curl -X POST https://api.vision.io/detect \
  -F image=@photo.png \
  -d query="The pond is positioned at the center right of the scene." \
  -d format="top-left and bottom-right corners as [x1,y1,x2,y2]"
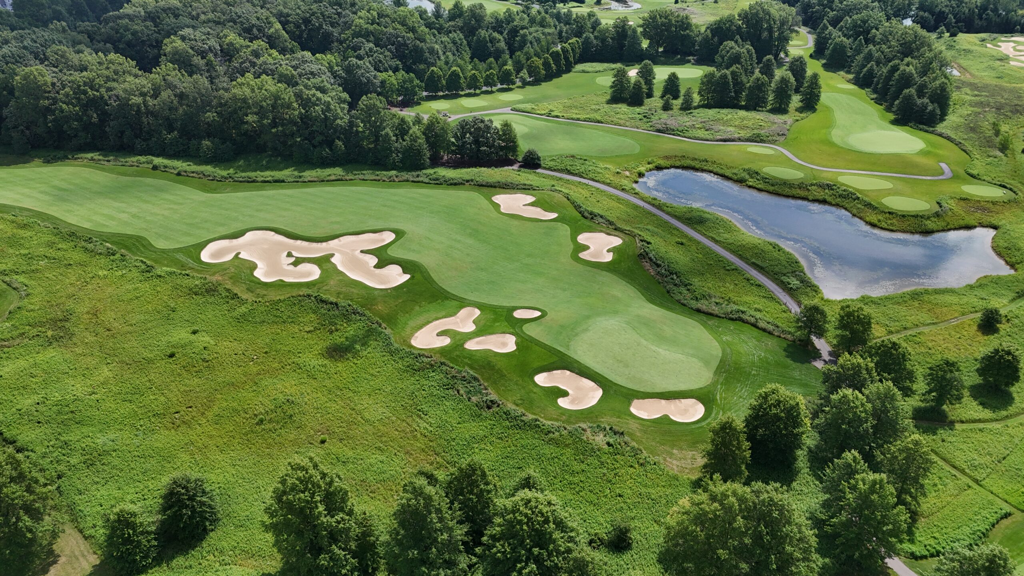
[636,168,1015,300]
